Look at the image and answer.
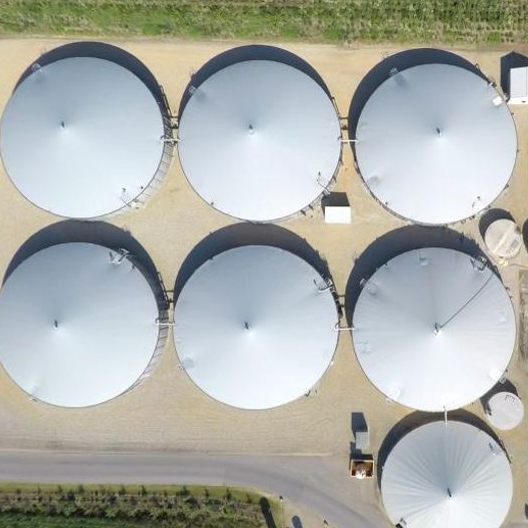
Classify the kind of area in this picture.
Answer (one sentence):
This looks like an industrial area.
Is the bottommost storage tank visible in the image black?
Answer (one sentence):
No, the bottommost storage tank is actually white.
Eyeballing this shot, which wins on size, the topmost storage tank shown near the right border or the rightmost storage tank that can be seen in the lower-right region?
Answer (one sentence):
Compared with the rightmost storage tank that can be seen in the lower-right region, the topmost storage tank shown near the right border is the larger one.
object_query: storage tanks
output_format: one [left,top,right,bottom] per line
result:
[355,63,520,228]
[485,389,523,428]
[483,219,521,264]
[0,241,168,408]
[352,247,519,412]
[178,59,343,225]
[381,415,513,528]
[173,245,341,410]
[0,55,173,222]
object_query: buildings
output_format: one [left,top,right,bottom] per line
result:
[313,192,352,224]
[506,66,528,101]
